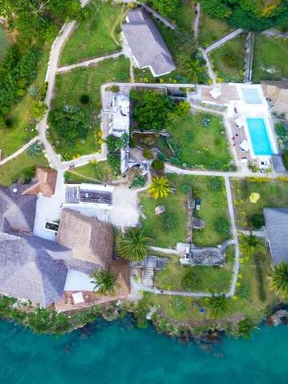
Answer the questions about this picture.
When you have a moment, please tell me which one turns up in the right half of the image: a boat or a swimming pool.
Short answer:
swimming pool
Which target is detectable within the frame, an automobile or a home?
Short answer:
home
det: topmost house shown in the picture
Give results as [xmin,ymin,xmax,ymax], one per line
[118,8,176,78]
